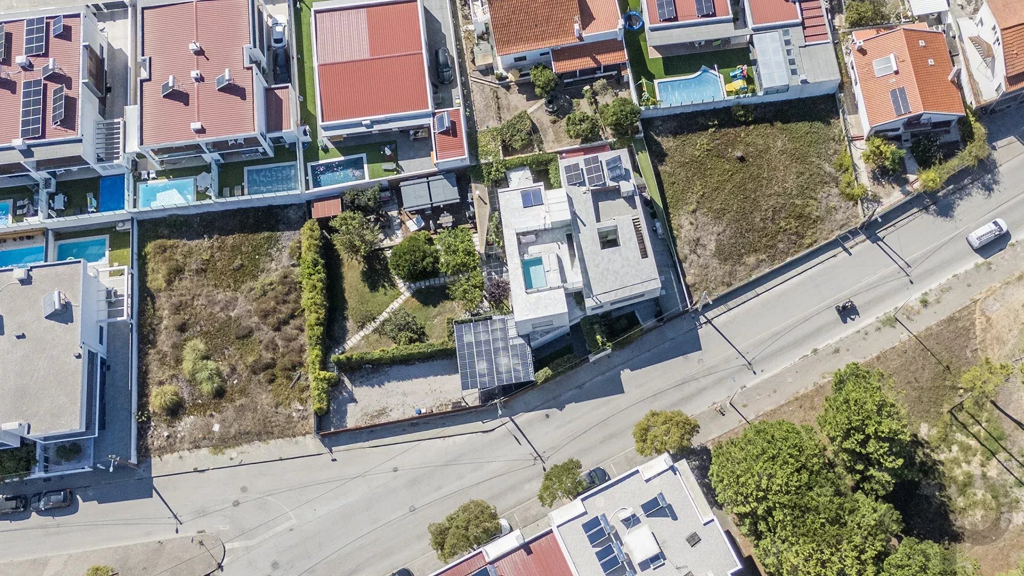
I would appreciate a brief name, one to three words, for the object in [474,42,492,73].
shed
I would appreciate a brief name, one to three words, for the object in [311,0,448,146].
house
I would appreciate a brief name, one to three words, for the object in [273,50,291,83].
car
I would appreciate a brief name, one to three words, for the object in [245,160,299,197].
swimming pool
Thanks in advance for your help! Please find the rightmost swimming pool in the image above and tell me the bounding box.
[654,68,727,106]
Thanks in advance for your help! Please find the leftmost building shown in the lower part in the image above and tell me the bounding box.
[0,260,110,460]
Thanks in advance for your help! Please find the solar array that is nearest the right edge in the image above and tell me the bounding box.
[889,86,911,115]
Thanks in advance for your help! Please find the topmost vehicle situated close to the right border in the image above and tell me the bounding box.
[961,219,1007,256]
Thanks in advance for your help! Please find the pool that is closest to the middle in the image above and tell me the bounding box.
[522,256,549,290]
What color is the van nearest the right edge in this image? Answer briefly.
white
